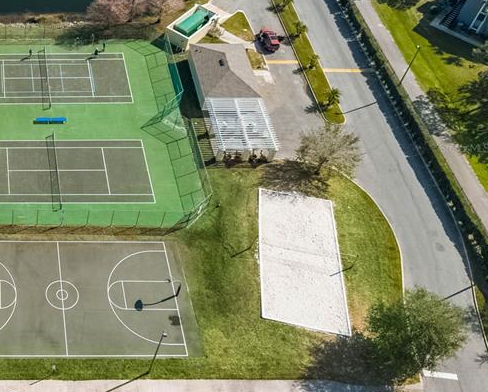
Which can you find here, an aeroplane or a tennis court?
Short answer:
tennis court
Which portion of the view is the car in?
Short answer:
top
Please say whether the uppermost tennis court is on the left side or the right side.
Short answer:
left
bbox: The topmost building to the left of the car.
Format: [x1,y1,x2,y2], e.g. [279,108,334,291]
[186,44,263,112]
